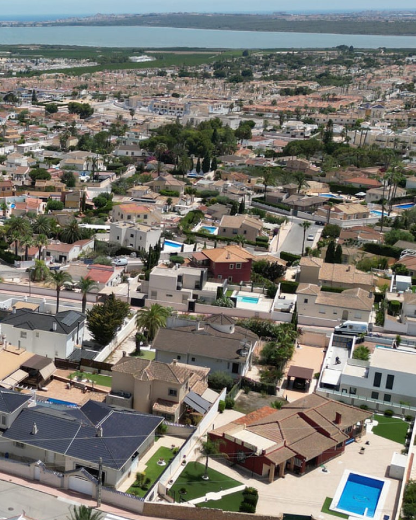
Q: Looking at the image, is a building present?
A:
Yes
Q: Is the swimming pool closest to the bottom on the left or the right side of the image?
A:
right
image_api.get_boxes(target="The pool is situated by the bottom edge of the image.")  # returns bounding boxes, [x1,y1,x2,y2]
[325,468,391,520]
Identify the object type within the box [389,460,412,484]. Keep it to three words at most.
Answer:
shed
